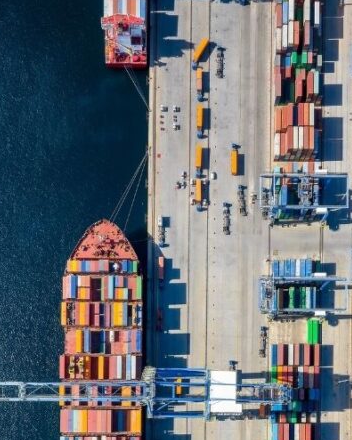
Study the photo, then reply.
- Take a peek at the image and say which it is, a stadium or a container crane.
container crane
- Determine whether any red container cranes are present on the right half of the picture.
No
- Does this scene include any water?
Yes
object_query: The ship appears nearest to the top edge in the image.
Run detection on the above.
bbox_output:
[102,0,148,67]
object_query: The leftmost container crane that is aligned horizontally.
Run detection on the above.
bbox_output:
[0,361,290,423]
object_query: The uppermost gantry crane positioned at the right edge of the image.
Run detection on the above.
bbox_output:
[261,169,352,216]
